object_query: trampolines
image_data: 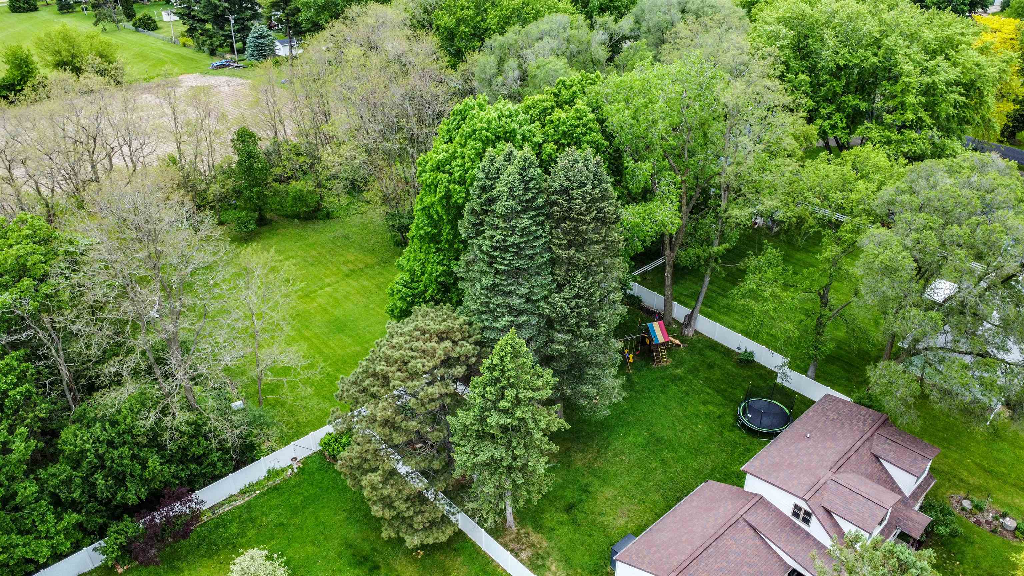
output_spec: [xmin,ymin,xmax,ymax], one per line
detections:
[735,382,795,439]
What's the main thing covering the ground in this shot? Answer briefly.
trees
